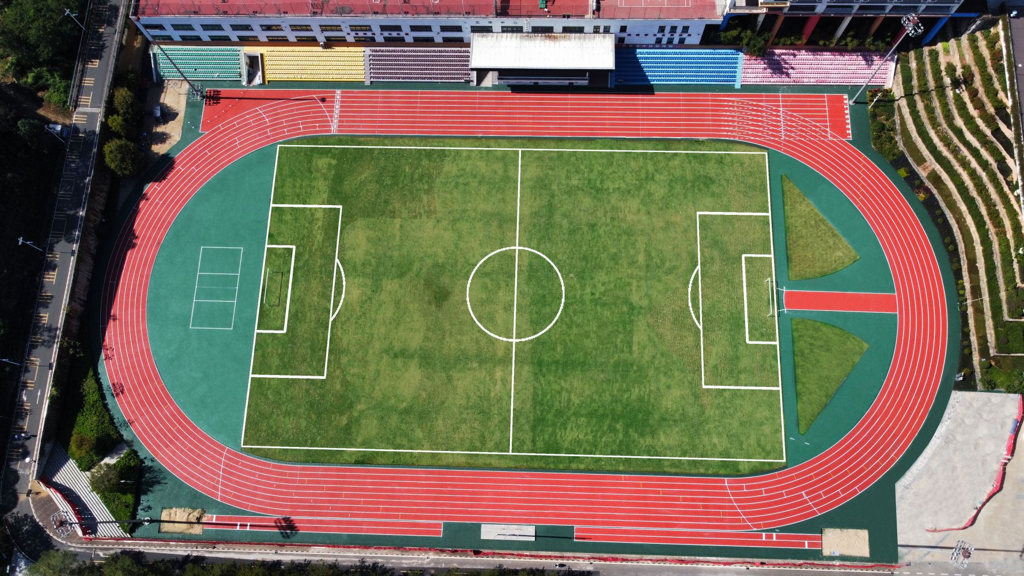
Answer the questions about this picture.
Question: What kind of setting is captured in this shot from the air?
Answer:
sports ground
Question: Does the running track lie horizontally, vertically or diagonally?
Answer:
horizontally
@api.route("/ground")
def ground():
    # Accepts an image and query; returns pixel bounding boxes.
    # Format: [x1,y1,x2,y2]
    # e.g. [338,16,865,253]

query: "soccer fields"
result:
[241,137,788,474]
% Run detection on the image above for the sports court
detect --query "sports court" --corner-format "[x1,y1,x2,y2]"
[190,247,243,329]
